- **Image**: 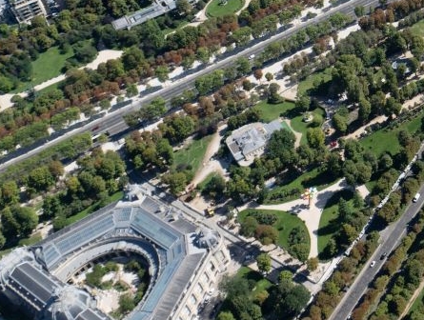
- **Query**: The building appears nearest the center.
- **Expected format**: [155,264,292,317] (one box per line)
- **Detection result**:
[224,122,289,174]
